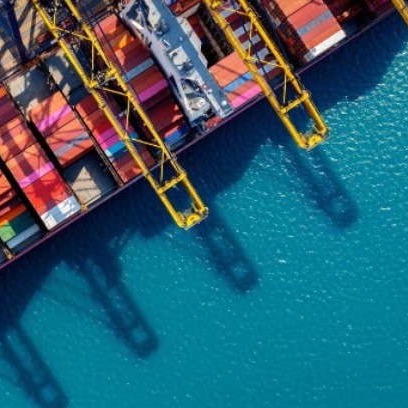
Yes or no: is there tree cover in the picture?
No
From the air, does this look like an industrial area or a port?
port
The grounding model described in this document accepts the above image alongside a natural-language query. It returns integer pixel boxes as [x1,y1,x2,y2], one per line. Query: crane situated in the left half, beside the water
[0,0,214,232]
